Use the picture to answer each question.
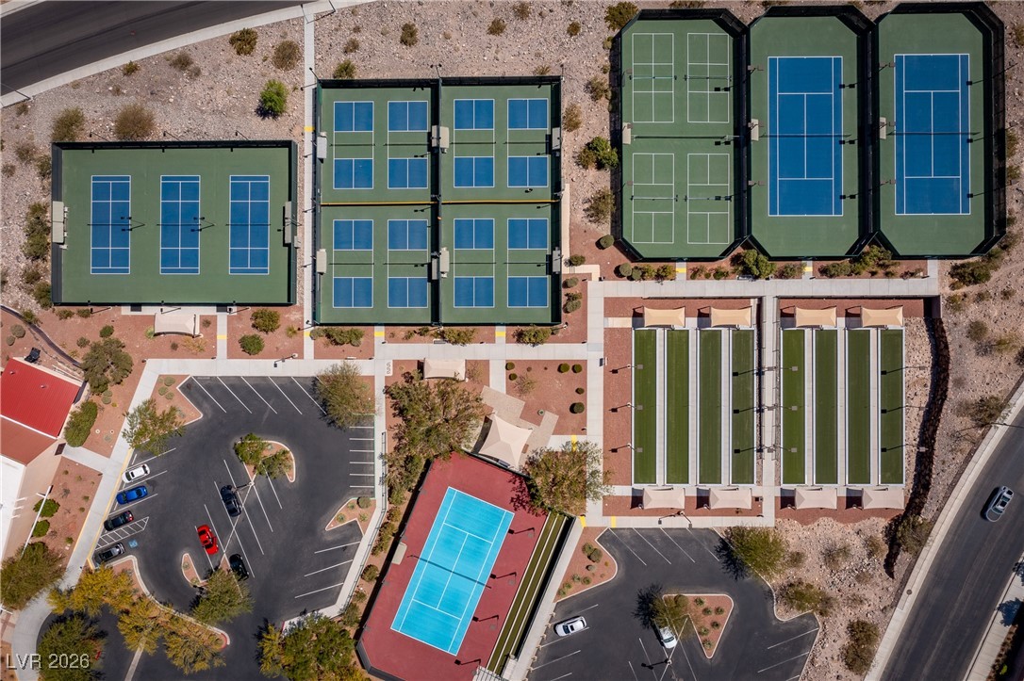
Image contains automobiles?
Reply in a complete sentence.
Yes, looking at the shot, I can spot an automobile.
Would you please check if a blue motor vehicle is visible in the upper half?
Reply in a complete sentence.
No, I see no blue motor vehicle in the upper half.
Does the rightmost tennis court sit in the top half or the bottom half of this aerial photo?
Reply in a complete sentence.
The top half of the photo is where the rightmost tennis court is.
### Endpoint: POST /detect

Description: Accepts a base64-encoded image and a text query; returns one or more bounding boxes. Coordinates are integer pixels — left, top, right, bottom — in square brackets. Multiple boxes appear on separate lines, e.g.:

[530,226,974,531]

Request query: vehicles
[94,542,126,563]
[555,615,587,636]
[117,485,149,504]
[105,510,135,530]
[220,484,242,517]
[654,616,675,649]
[198,524,222,554]
[121,463,152,483]
[982,489,1011,522]
[229,552,250,582]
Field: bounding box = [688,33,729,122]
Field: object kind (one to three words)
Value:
sports court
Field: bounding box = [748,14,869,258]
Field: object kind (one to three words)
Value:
tennis court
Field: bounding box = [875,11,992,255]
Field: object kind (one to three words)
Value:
tennis court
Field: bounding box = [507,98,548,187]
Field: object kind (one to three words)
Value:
sports court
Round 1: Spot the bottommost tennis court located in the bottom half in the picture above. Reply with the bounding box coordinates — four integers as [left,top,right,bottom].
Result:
[357,455,548,681]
